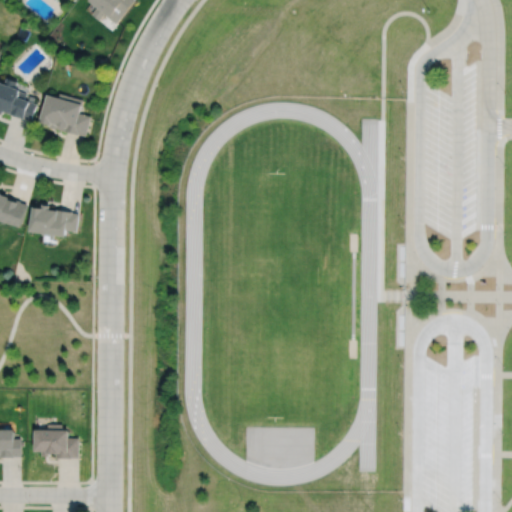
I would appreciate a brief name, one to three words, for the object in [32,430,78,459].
house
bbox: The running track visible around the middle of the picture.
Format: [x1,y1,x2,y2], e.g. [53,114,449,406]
[185,102,378,486]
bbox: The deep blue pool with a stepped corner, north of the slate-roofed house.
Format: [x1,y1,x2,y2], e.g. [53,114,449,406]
[14,44,53,84]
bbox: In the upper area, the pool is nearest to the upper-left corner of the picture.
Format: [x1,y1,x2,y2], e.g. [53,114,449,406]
[22,0,65,22]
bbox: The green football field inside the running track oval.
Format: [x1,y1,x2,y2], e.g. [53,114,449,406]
[202,120,360,461]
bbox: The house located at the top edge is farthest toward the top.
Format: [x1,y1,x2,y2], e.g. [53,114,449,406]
[88,0,136,31]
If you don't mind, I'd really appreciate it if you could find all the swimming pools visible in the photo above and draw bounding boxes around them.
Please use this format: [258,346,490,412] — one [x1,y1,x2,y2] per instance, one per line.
[22,0,65,22]
[14,44,53,84]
